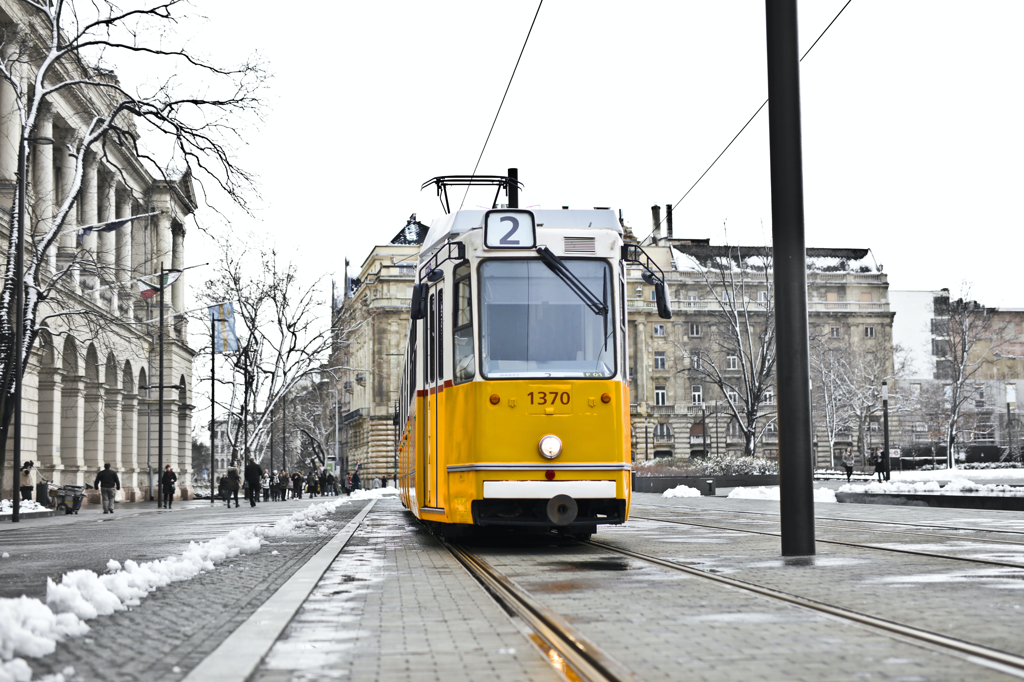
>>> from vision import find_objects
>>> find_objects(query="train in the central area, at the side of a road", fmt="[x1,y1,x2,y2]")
[401,173,674,546]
